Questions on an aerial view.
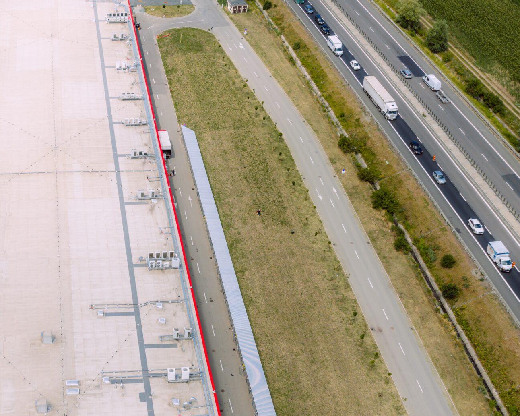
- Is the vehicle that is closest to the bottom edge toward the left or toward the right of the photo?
right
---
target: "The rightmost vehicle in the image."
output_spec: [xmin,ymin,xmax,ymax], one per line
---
[489,239,514,272]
